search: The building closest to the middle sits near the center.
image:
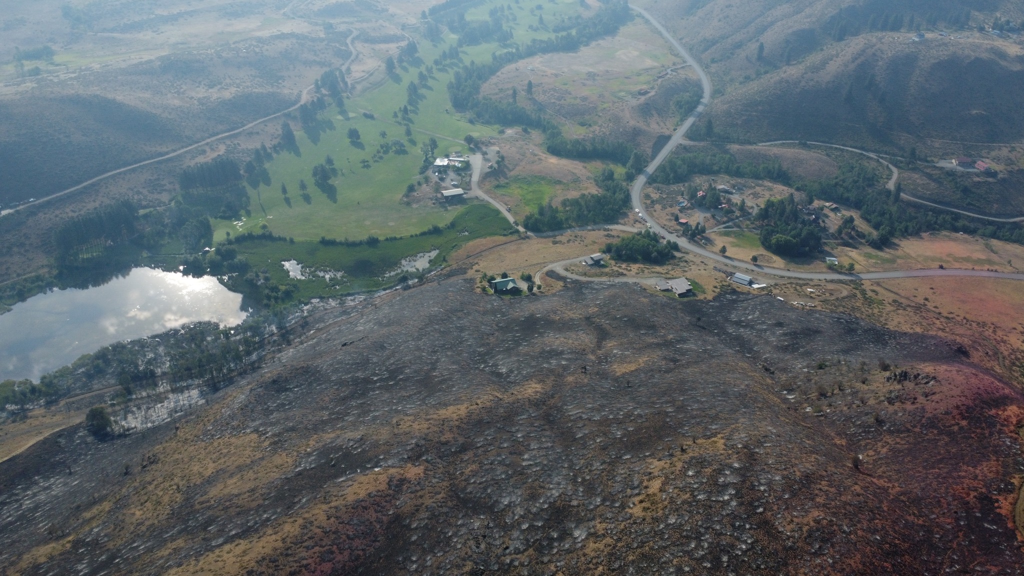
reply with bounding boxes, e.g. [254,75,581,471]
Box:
[491,277,522,296]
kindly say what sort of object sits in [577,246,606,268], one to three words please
house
